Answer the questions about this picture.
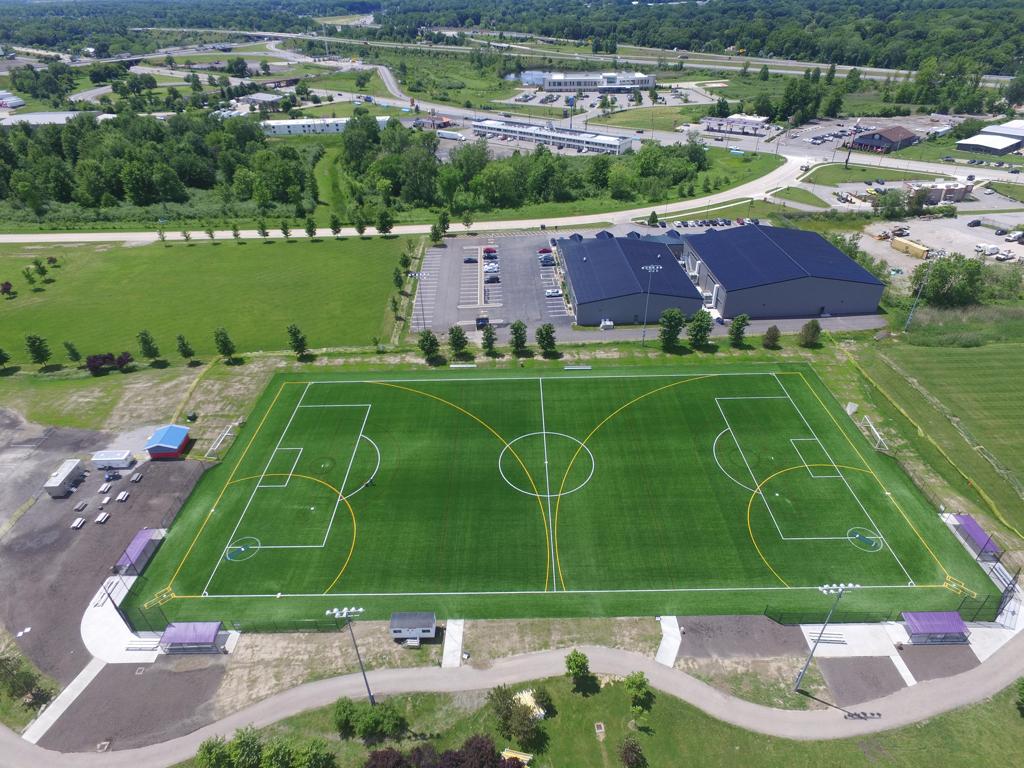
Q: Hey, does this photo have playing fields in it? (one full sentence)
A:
Yes, a playing field appears in the view.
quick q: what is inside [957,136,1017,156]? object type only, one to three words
shed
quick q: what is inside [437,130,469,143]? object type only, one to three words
vehicle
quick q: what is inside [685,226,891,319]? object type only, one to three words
building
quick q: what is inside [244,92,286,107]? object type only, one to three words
building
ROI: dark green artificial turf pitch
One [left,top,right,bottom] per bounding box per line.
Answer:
[167,372,948,596]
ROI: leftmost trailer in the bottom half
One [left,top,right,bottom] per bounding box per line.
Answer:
[44,459,90,498]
